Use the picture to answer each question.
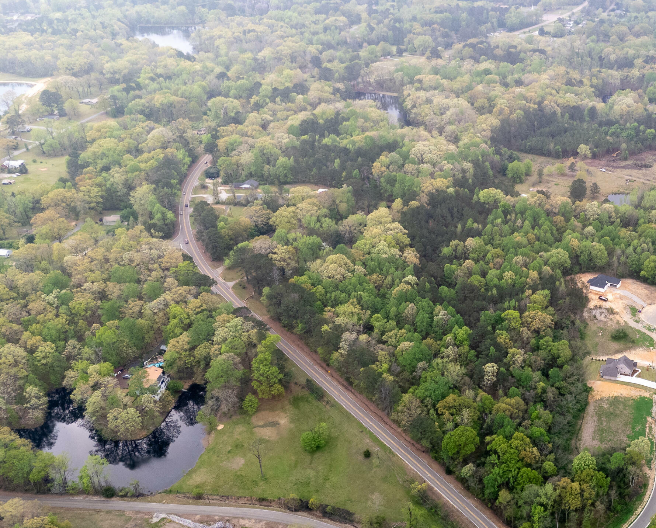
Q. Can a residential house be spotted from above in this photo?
Yes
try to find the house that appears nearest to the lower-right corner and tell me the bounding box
[600,351,644,380]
